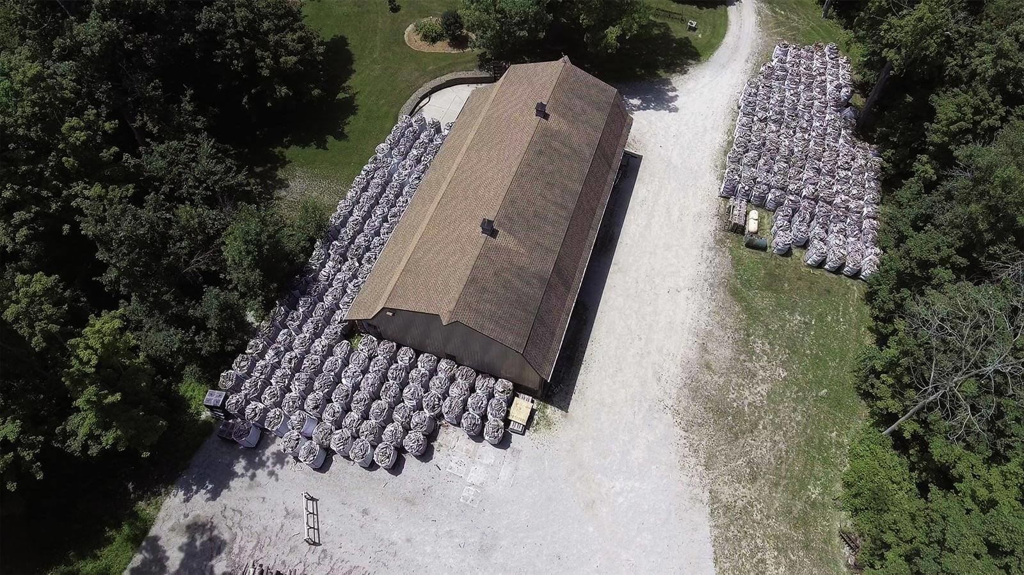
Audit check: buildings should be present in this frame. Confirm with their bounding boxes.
[343,47,634,393]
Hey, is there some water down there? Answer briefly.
No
